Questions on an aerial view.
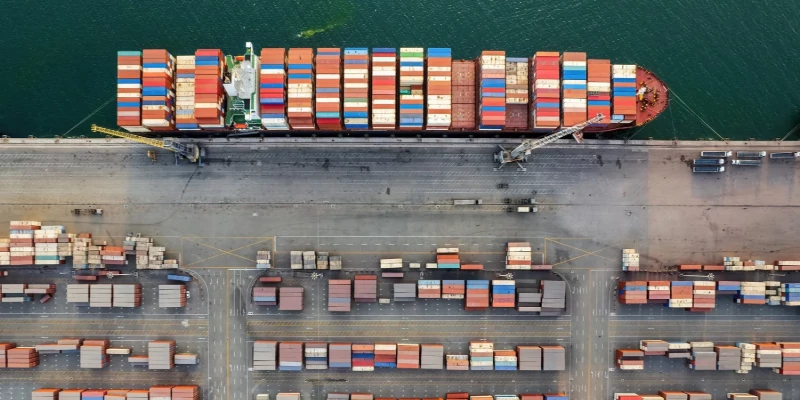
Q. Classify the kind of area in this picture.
port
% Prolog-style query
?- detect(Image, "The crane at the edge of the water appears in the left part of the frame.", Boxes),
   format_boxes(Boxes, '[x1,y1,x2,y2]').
[91,121,208,168]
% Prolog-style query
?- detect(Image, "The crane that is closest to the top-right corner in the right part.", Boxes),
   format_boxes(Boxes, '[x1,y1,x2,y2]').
[494,112,605,170]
